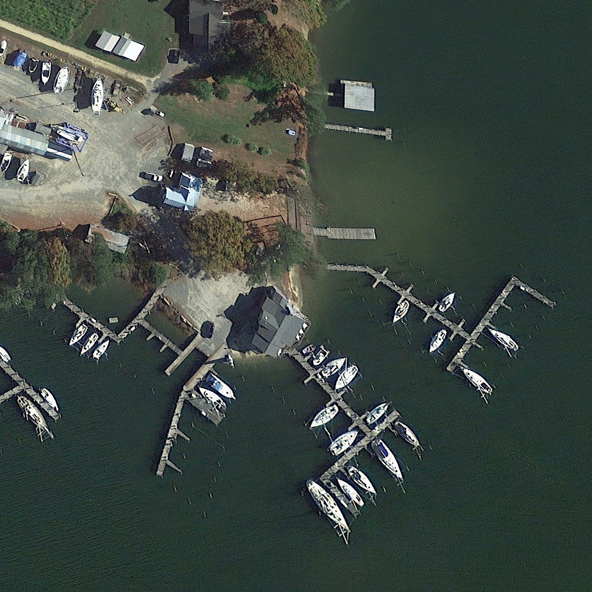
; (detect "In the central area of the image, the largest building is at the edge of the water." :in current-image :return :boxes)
[250,286,310,358]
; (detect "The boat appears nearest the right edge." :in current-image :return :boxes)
[489,329,520,360]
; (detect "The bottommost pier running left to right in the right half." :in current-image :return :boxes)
[325,261,556,371]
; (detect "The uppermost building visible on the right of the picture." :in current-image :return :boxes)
[339,77,375,111]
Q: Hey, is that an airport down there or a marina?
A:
marina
